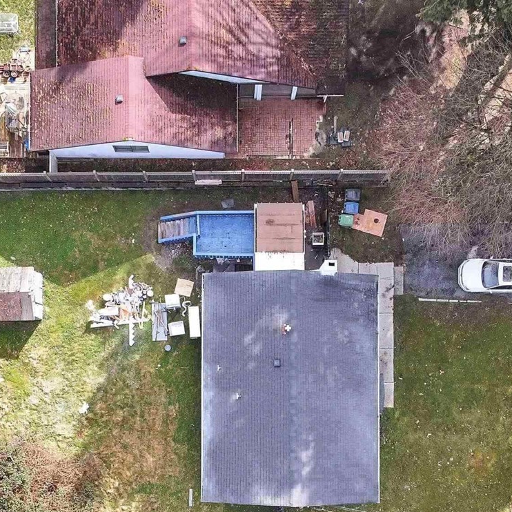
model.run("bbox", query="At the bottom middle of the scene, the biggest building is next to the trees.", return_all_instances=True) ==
[198,258,382,509]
